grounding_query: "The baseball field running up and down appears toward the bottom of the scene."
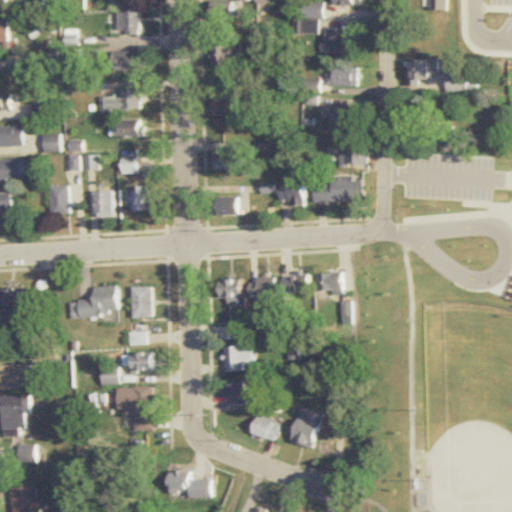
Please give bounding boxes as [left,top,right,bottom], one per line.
[414,304,512,512]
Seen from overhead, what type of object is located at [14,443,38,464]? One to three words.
building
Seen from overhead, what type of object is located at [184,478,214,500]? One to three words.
building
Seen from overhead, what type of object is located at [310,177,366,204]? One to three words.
house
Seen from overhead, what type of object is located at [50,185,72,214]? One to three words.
house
